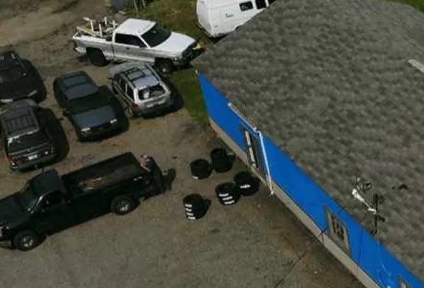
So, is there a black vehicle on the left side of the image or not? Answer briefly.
Yes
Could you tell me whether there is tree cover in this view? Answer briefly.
No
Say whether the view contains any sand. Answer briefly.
No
